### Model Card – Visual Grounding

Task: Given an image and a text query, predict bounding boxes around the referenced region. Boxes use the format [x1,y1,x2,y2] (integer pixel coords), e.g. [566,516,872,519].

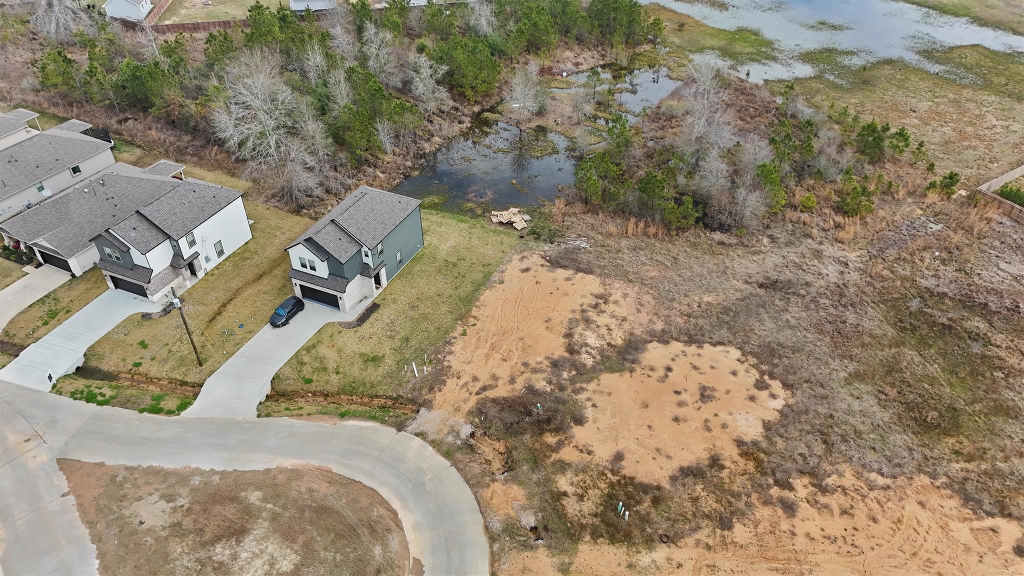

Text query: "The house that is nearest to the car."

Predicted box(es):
[284,189,425,311]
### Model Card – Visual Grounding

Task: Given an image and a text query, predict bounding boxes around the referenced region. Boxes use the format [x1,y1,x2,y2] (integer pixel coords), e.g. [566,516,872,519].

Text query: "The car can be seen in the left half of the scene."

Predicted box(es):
[266,294,306,326]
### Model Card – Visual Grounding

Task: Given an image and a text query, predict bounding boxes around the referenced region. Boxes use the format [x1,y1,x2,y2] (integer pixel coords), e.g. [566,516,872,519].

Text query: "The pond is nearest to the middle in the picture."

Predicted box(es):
[386,66,686,214]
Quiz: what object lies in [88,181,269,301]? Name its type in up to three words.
house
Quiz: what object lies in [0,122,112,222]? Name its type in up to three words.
house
